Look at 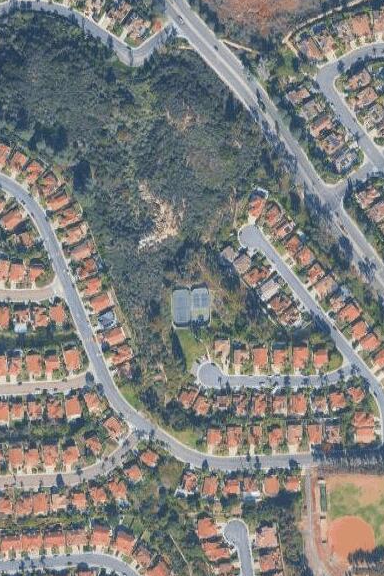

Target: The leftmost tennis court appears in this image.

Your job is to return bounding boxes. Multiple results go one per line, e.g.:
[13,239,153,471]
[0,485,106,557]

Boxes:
[173,289,191,323]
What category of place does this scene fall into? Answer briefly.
residential area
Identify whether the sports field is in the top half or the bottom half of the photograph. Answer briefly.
bottom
